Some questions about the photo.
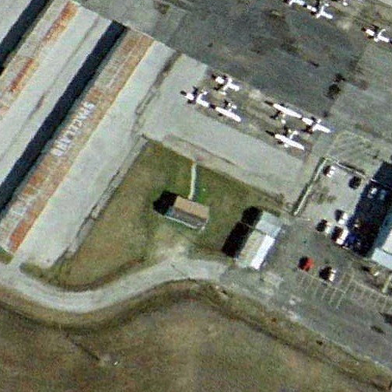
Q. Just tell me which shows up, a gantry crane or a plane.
plane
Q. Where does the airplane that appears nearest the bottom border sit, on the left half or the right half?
right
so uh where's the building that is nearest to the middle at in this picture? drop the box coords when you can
[164,197,209,227]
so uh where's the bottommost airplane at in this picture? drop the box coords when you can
[275,128,305,151]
